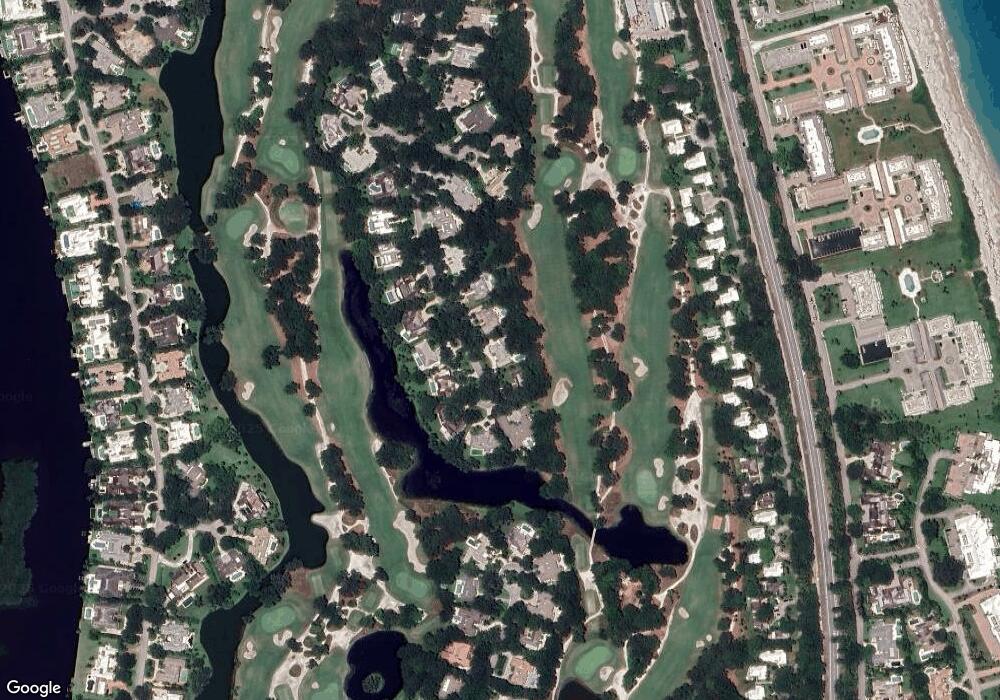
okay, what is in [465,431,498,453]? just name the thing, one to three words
house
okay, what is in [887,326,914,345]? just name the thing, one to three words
building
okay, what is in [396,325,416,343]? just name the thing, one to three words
swimming pool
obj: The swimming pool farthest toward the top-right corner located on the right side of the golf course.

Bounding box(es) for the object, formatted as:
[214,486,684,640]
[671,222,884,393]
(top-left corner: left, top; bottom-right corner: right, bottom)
[858,125,883,144]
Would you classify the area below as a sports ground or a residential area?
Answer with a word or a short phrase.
residential area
